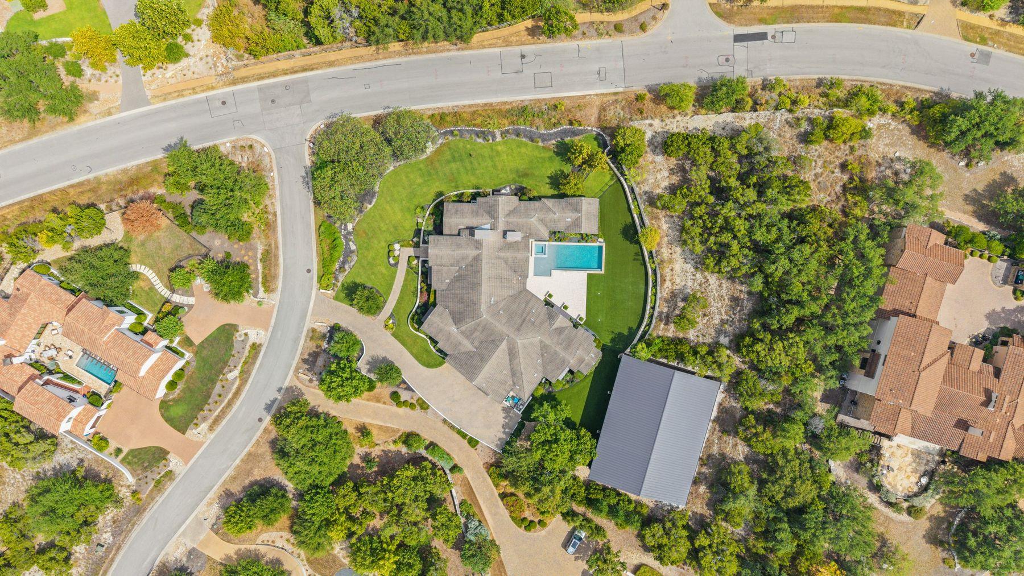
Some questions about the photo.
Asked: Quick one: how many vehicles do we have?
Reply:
1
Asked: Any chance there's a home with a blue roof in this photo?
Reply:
No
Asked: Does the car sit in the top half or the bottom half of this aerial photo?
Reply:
bottom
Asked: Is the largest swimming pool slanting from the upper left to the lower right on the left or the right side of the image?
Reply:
left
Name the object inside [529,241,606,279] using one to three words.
swimming pool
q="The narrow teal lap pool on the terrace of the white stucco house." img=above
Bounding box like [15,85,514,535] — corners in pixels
[74,353,117,388]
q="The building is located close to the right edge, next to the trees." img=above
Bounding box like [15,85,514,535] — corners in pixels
[858,224,1024,462]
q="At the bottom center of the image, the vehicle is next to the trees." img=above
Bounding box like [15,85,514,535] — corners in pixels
[566,531,587,559]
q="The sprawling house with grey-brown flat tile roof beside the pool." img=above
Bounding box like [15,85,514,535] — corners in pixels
[421,197,602,404]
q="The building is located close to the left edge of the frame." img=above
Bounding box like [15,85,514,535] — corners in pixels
[0,269,186,437]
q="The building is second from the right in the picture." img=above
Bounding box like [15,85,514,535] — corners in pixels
[588,355,720,506]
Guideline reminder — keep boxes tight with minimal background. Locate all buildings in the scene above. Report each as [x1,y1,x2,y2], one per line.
[588,355,720,506]
[421,197,602,404]
[0,269,186,437]
[858,224,1024,462]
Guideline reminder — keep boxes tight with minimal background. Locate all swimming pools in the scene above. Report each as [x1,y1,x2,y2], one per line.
[529,241,606,279]
[74,353,117,388]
